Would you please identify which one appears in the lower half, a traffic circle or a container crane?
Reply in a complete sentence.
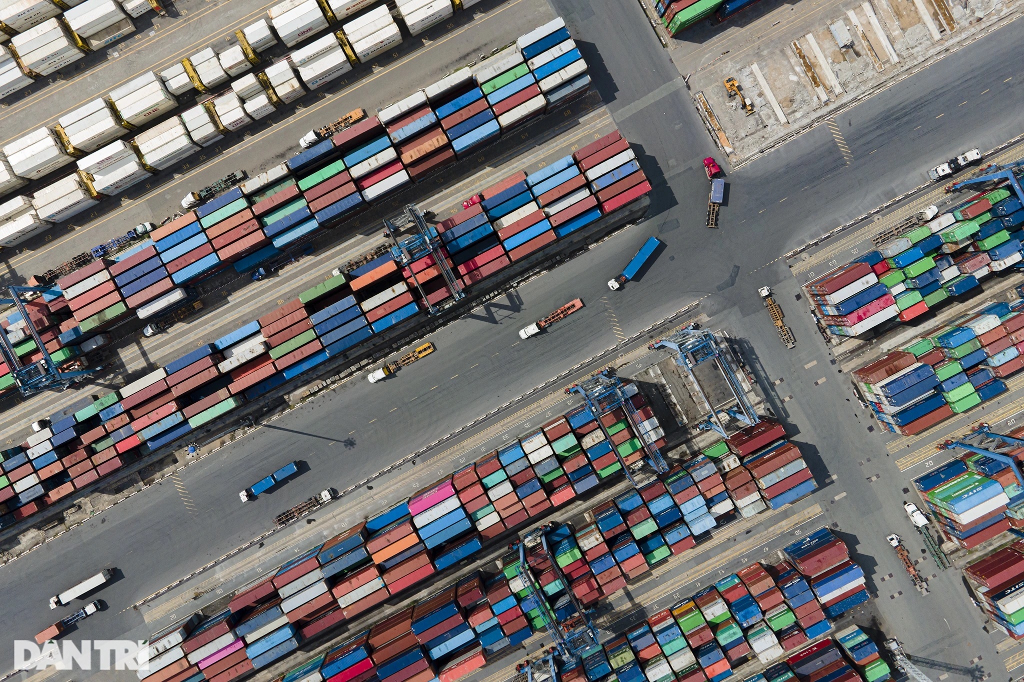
You can see a container crane in the lower half.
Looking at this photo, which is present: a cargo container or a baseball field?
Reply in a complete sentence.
Visible in the photo is a cargo container.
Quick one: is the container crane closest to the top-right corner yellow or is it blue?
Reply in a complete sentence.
The container crane closest to the top-right corner looks blue in the image.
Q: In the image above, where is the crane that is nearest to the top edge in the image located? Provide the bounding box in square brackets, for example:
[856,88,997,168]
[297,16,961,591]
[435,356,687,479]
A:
[946,159,1024,222]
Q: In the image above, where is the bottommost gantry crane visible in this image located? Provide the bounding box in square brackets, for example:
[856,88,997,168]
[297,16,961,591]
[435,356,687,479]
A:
[507,645,560,682]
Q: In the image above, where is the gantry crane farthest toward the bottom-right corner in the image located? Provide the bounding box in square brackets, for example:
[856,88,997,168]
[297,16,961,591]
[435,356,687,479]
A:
[971,422,1024,491]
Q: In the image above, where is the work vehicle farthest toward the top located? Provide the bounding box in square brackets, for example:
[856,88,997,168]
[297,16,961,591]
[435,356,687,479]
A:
[727,78,748,117]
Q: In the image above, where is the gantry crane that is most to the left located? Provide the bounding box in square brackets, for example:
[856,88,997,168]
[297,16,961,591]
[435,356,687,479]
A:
[0,282,112,400]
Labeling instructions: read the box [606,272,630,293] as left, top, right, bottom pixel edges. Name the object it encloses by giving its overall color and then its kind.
white truck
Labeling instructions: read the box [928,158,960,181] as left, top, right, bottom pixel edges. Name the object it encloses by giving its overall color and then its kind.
white truck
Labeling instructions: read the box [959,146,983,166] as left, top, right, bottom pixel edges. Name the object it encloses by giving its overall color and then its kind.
white vehicle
